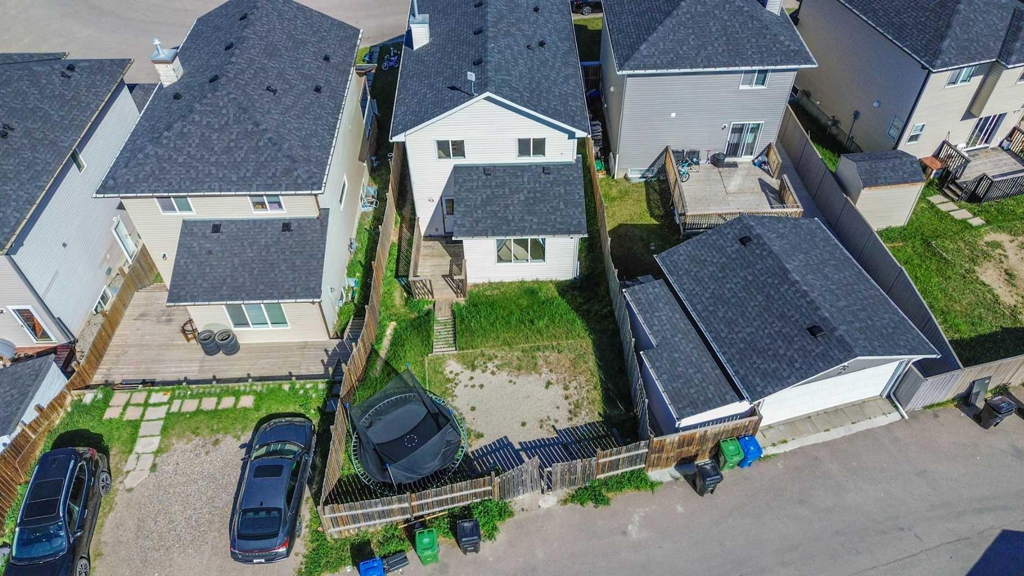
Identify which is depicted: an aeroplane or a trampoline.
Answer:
trampoline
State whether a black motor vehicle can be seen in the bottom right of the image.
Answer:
No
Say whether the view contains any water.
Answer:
No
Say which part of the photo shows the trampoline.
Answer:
bottom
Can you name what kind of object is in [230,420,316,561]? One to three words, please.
car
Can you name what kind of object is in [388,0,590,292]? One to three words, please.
house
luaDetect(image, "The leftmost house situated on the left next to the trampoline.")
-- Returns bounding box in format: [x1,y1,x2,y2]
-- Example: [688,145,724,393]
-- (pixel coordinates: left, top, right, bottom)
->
[91,0,391,347]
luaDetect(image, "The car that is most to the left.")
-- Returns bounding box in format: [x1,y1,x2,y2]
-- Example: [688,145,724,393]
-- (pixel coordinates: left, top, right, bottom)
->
[3,447,107,576]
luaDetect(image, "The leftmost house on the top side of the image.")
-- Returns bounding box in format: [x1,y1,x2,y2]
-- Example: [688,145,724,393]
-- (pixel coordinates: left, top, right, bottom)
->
[0,53,146,343]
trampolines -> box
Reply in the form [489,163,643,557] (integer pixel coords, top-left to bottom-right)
[345,366,469,504]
